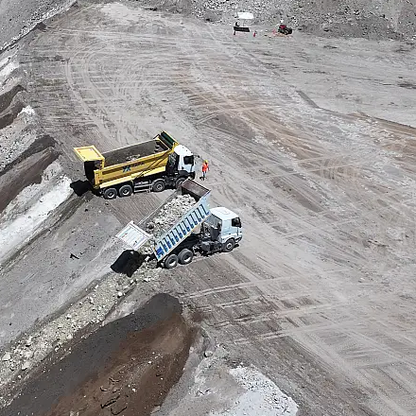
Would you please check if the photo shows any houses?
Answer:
No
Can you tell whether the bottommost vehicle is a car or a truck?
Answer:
truck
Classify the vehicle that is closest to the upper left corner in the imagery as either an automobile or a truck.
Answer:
truck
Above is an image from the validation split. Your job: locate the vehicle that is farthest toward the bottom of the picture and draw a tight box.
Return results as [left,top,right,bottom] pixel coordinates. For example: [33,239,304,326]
[116,181,252,268]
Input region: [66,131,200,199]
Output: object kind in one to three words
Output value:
truck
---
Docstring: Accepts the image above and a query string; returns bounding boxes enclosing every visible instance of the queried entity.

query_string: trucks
[116,181,252,268]
[66,131,200,199]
